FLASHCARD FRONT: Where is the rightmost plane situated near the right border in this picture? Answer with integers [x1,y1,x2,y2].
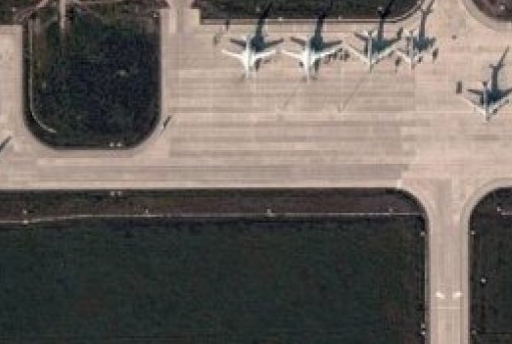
[462,79,509,121]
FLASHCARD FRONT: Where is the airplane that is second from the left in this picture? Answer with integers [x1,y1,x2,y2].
[281,31,336,82]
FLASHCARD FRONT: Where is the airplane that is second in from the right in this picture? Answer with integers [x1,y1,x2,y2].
[396,30,428,71]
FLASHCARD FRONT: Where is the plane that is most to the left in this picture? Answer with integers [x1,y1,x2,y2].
[221,29,276,80]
